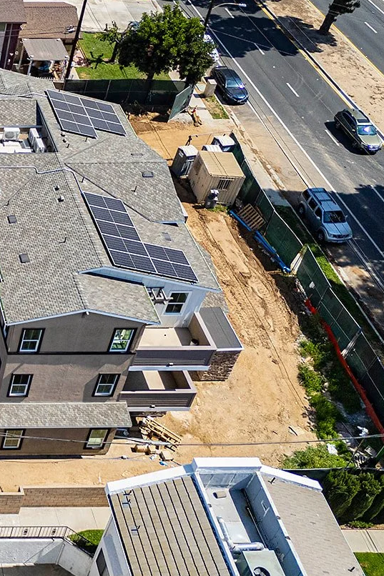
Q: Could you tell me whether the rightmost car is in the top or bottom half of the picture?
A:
top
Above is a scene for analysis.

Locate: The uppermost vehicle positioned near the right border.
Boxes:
[332,113,380,155]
